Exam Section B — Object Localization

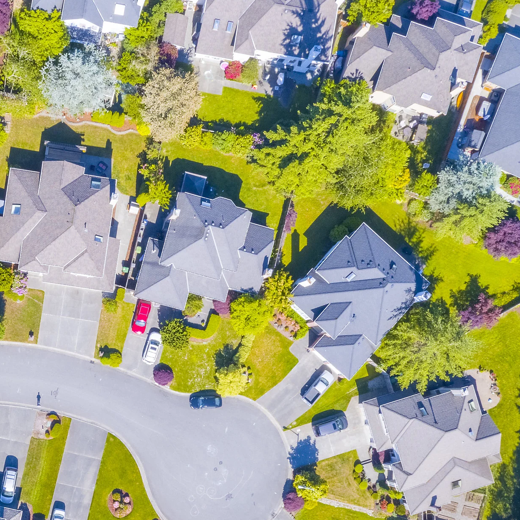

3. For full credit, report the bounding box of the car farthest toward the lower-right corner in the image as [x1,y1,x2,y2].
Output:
[310,413,350,437]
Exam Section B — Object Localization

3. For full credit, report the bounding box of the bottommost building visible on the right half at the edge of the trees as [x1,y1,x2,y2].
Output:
[359,385,503,516]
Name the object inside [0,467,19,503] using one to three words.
car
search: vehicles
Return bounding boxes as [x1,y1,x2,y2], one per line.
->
[141,329,163,365]
[51,509,66,520]
[0,467,19,503]
[456,0,474,19]
[301,367,336,406]
[189,394,223,410]
[132,299,152,334]
[310,413,350,437]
